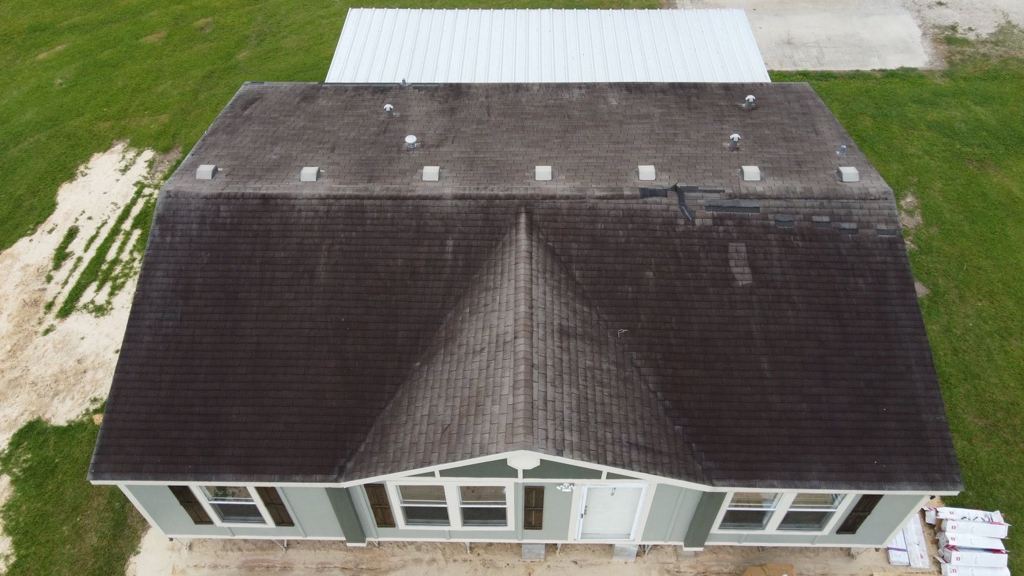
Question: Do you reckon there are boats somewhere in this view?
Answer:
No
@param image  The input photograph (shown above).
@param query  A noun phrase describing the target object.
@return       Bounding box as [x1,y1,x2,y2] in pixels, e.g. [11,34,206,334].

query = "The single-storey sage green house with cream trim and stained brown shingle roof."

[87,73,964,560]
